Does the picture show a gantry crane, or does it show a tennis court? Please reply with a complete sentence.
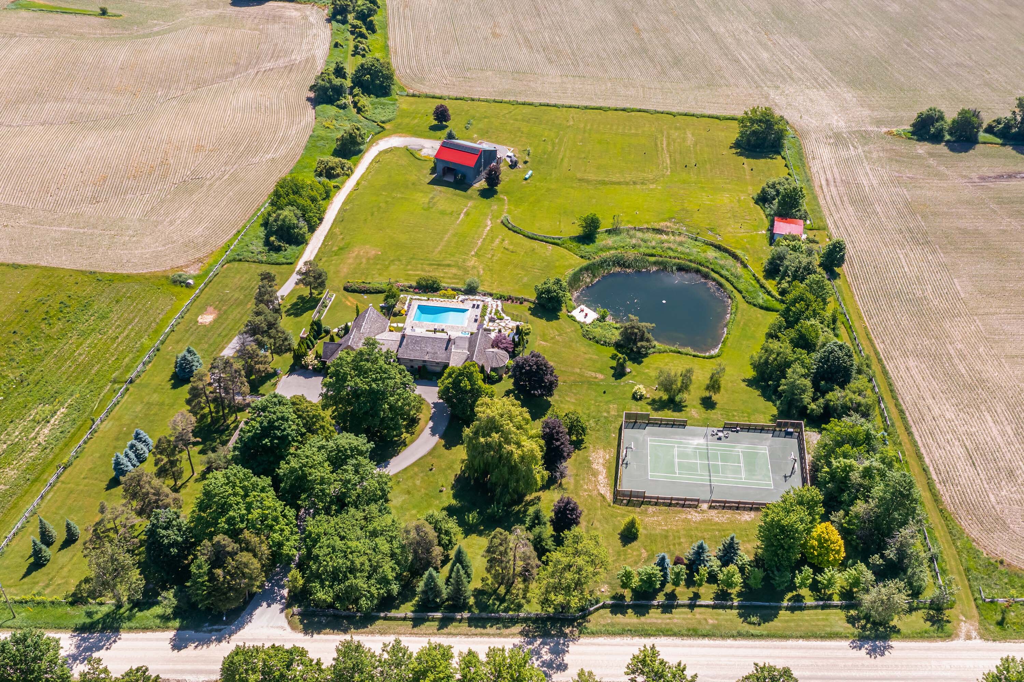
This aerial view contains a tennis court.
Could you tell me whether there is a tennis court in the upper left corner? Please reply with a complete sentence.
No, I can find no tennis court in the upper left corner.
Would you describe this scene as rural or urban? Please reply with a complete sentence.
It looks rural.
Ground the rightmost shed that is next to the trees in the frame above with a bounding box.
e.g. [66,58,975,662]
[771,219,806,240]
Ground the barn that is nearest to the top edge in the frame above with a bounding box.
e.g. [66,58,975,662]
[433,139,494,183]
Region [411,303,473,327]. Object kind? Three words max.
swimming pool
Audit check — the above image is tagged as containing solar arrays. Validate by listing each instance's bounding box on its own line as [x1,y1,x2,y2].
[441,139,481,156]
